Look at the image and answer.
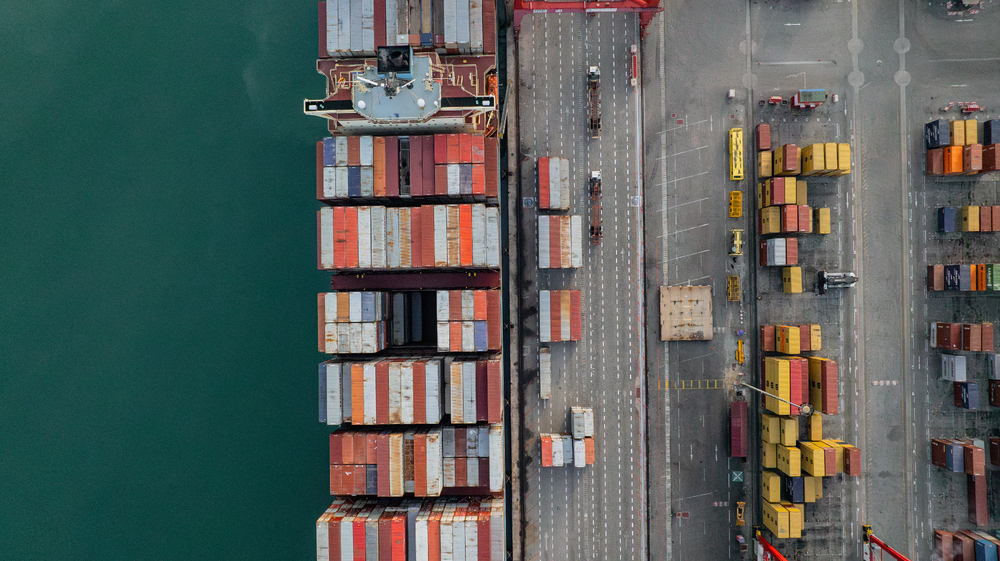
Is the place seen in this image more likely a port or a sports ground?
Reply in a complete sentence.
What you see here is a port.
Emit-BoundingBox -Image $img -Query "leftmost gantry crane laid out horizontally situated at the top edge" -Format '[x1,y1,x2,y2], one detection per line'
[513,0,664,44]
